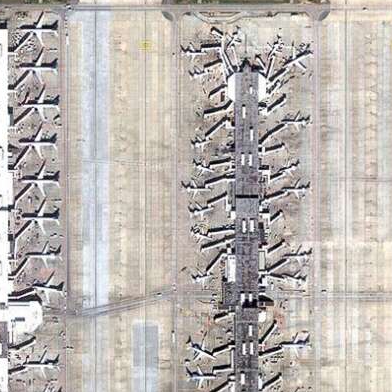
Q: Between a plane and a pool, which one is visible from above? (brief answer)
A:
plane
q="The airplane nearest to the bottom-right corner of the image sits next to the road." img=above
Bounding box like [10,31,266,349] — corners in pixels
[282,335,311,357]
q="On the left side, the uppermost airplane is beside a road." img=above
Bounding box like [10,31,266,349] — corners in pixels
[19,15,57,46]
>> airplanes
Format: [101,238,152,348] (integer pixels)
[186,367,216,389]
[19,165,59,197]
[19,15,57,46]
[19,128,56,158]
[181,44,206,63]
[25,353,60,379]
[192,269,212,284]
[186,340,216,361]
[26,243,61,270]
[283,269,308,287]
[193,160,214,174]
[191,227,212,241]
[283,43,316,71]
[189,202,213,220]
[268,34,284,56]
[22,203,58,233]
[279,159,301,175]
[282,180,310,201]
[283,245,311,266]
[282,335,311,357]
[191,136,211,150]
[32,275,65,305]
[19,53,57,83]
[182,177,211,199]
[282,112,311,134]
[20,90,58,121]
